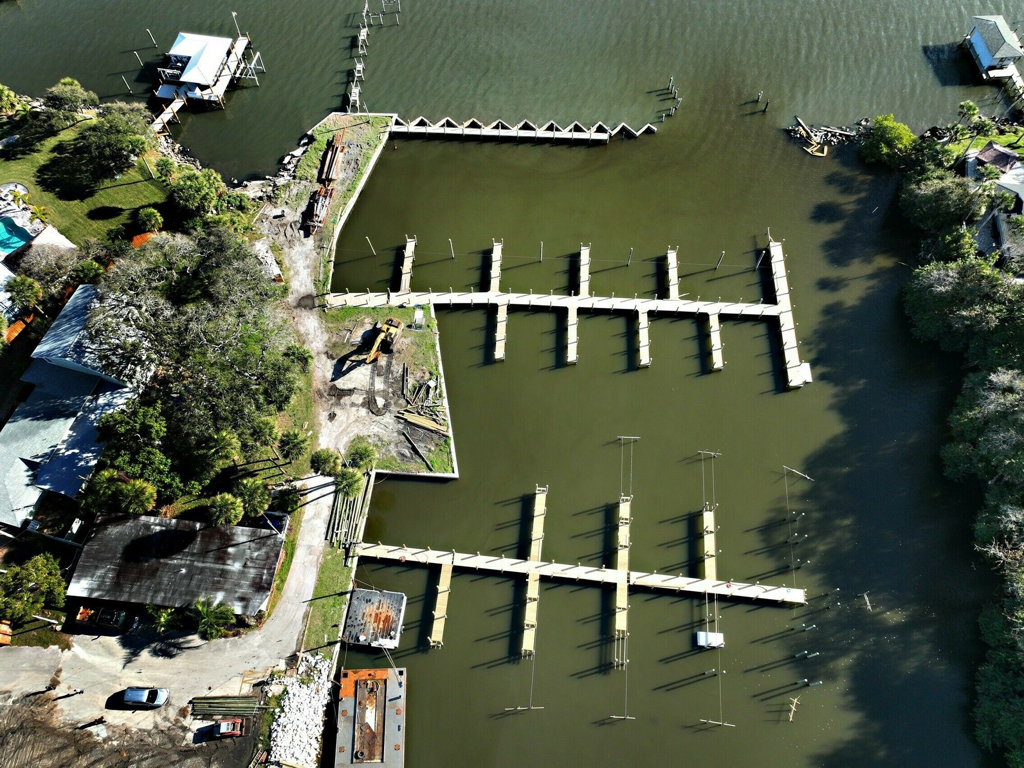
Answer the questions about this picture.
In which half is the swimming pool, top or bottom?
top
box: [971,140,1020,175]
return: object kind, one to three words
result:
shed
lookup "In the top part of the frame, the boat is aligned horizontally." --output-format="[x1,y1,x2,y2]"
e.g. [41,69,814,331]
[160,58,189,70]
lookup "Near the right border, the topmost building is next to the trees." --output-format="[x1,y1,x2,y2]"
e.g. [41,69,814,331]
[961,15,1024,104]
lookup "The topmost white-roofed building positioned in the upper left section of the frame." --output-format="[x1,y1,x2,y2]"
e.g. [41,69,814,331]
[150,30,253,135]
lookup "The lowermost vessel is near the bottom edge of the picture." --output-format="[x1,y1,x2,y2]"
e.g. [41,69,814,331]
[334,668,407,768]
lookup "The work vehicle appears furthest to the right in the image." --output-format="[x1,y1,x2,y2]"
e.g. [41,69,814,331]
[366,316,409,367]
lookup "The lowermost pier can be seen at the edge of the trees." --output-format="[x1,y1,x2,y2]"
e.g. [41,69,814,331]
[358,486,809,669]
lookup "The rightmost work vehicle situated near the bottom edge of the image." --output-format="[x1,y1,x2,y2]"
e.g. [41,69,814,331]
[213,717,252,738]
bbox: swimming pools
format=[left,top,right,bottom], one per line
[0,217,34,255]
